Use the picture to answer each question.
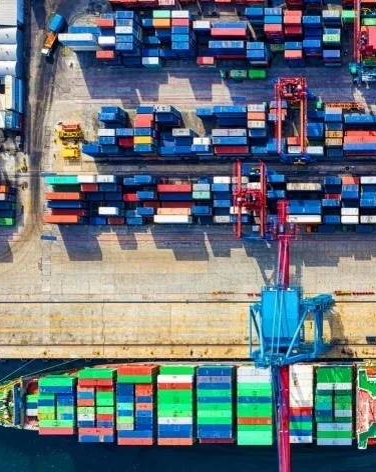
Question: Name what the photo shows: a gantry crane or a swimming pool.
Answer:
gantry crane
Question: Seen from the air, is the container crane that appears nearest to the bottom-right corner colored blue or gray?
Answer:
blue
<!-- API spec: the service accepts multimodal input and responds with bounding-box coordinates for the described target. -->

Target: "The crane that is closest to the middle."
[234,160,279,241]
